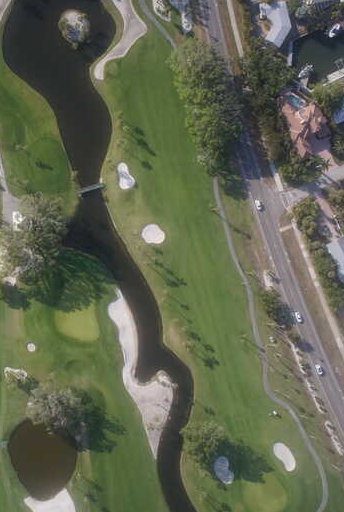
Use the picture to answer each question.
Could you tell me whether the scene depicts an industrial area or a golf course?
golf course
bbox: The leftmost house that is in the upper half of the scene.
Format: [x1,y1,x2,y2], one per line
[264,0,292,48]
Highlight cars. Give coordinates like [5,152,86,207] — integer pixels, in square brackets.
[315,364,322,375]
[255,200,261,211]
[294,312,301,323]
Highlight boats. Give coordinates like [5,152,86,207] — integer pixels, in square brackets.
[298,68,312,79]
[330,24,341,36]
